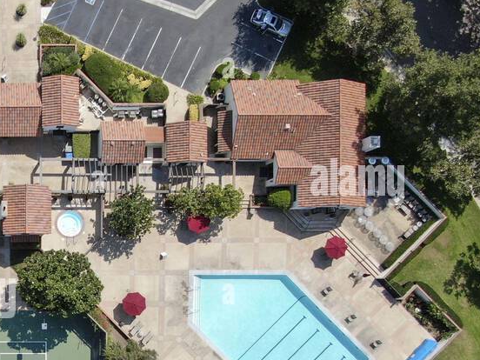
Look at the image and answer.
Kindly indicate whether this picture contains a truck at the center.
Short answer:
No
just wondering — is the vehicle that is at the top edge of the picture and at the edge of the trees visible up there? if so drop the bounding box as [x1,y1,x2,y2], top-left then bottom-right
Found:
[247,8,295,38]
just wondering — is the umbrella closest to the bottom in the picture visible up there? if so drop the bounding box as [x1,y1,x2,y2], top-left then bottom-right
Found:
[122,292,145,315]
